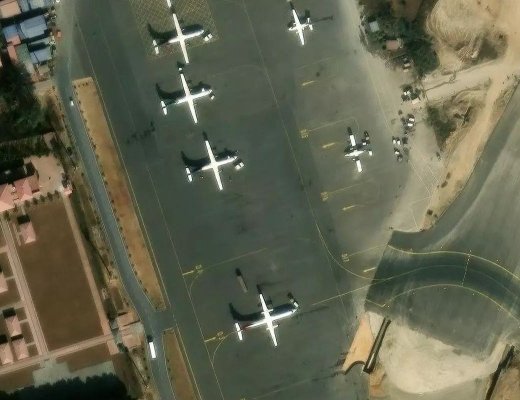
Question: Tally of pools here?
0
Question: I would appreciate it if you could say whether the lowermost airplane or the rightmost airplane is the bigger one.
the lowermost airplane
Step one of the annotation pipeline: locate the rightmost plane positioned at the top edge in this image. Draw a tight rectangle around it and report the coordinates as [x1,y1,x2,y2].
[288,9,314,46]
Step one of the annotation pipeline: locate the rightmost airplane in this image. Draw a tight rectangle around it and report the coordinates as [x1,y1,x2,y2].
[344,134,372,172]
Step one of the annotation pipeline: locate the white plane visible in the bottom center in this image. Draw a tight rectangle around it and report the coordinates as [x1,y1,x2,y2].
[236,295,296,345]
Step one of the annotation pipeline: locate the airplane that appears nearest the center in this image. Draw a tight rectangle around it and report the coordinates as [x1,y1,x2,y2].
[186,141,236,190]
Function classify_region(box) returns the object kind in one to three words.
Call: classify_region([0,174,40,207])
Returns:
house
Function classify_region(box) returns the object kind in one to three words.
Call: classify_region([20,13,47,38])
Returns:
house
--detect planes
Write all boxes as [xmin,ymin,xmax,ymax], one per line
[288,9,314,46]
[186,141,236,190]
[344,134,372,172]
[161,74,211,123]
[236,295,296,345]
[153,14,204,64]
